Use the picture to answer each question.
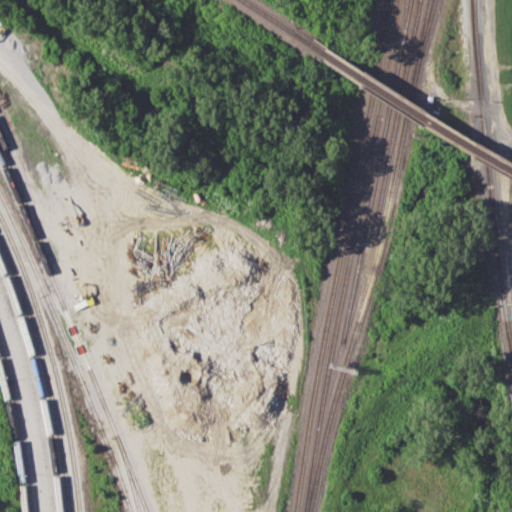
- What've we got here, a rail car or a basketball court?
rail car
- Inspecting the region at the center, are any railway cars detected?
No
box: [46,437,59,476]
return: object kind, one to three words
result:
rail car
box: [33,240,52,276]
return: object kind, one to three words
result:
rail car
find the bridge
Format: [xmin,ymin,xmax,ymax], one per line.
[234,0,512,177]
